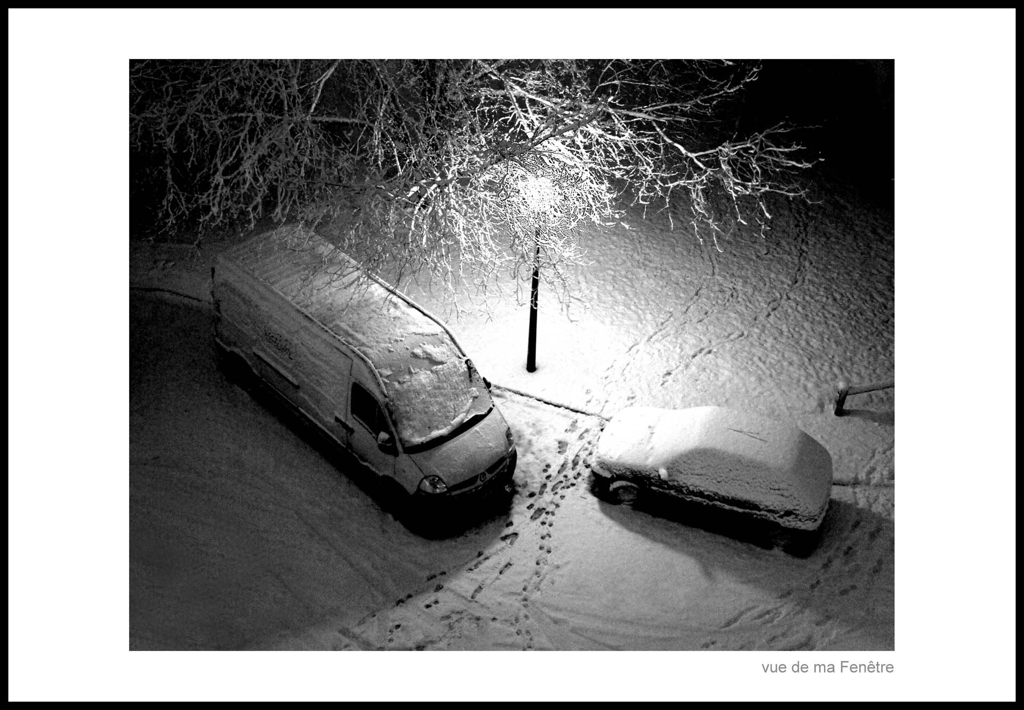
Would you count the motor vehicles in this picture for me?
2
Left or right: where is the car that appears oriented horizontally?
right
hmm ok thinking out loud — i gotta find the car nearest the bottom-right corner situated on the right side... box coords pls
[587,399,849,552]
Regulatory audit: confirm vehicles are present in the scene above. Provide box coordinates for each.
[218,224,521,526]
[587,399,849,552]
